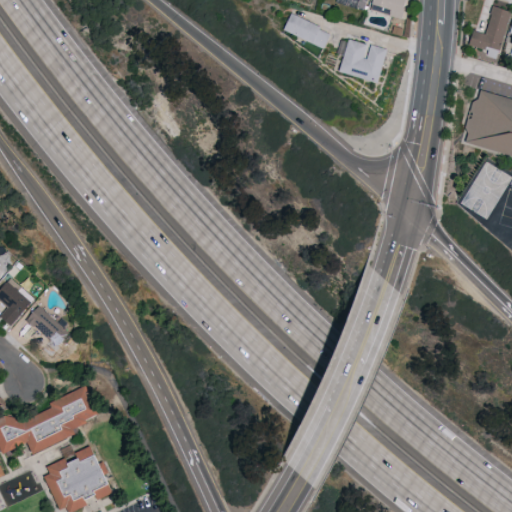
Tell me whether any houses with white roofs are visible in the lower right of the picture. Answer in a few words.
No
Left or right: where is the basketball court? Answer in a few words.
right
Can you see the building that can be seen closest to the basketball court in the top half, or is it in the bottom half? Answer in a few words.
top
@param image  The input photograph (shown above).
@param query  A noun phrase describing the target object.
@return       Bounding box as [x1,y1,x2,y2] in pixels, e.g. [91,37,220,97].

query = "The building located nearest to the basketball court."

[464,90,512,156]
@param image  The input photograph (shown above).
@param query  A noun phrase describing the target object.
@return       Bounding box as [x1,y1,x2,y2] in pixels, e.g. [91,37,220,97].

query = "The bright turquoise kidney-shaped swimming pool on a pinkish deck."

[47,291,67,310]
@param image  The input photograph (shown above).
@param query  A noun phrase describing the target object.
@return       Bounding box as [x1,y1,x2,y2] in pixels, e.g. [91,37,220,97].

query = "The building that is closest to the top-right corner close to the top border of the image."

[470,5,512,59]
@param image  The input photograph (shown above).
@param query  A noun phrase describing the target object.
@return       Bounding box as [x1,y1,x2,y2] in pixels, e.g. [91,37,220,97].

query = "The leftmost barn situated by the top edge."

[284,13,331,48]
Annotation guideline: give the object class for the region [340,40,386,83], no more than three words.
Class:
house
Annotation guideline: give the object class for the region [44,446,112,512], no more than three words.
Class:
building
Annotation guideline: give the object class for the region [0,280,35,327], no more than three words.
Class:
house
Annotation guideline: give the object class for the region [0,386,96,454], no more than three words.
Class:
building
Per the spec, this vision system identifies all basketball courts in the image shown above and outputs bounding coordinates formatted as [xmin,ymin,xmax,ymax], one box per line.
[462,162,512,219]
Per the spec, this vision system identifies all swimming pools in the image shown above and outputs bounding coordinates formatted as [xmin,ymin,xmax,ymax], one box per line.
[369,16,388,27]
[47,291,67,310]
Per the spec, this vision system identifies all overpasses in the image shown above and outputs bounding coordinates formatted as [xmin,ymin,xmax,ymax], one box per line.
[282,256,408,491]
